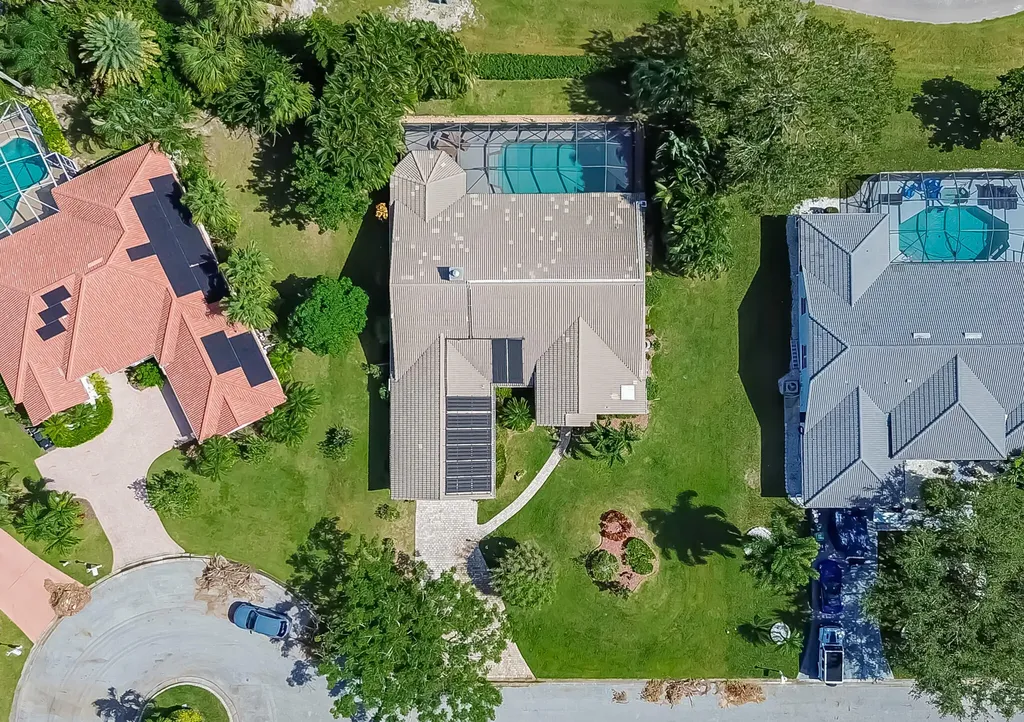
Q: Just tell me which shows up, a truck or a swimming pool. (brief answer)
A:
swimming pool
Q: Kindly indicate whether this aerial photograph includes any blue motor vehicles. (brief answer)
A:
Yes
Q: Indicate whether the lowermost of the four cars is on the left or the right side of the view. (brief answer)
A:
right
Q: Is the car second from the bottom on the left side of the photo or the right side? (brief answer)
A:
left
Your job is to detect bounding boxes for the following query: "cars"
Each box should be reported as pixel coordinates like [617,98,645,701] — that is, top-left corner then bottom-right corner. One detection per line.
[229,599,293,640]
[835,509,871,560]
[814,554,845,612]
[810,621,843,686]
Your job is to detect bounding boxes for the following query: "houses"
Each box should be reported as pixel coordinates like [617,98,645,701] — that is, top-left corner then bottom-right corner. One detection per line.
[796,212,1024,510]
[389,149,648,500]
[0,142,288,443]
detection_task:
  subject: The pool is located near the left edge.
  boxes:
[0,134,49,234]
